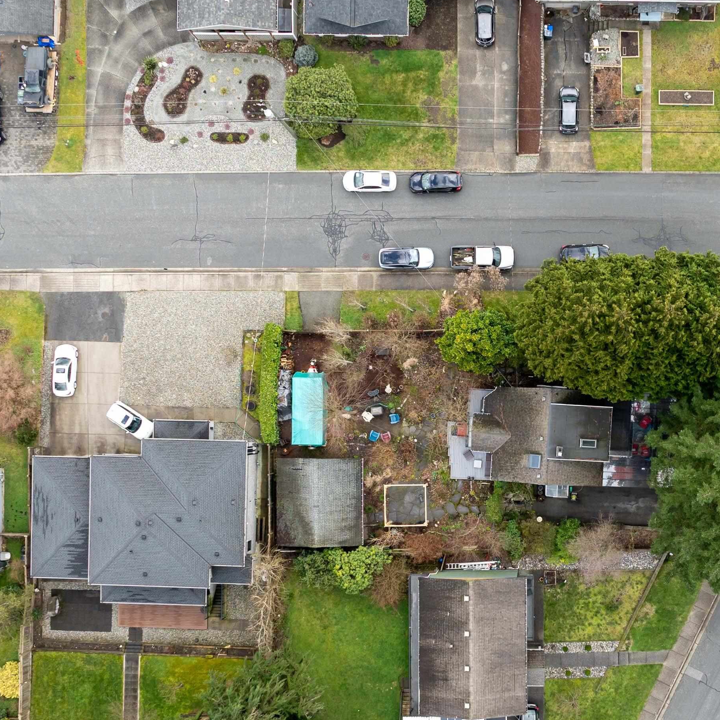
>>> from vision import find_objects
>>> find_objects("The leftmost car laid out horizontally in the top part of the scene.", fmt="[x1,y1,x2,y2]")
[343,168,398,194]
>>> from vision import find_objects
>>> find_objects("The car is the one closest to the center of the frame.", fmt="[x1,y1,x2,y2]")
[379,245,434,270]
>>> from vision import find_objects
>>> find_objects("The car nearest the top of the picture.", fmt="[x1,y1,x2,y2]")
[472,0,497,51]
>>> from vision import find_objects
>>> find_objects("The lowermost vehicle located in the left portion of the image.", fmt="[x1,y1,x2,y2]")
[106,398,153,441]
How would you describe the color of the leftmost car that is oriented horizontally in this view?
white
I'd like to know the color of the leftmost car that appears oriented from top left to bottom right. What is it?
white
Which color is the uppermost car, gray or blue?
gray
